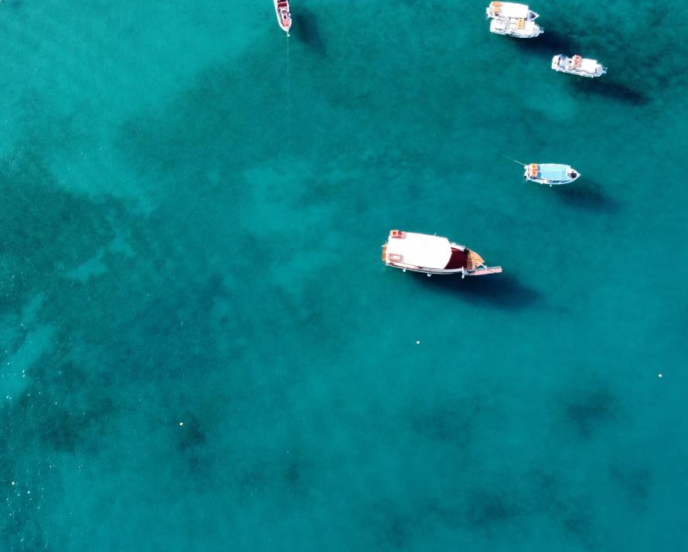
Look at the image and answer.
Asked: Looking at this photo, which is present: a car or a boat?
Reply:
boat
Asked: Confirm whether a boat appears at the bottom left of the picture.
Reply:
No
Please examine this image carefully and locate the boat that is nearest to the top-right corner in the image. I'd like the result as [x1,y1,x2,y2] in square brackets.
[551,56,609,77]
